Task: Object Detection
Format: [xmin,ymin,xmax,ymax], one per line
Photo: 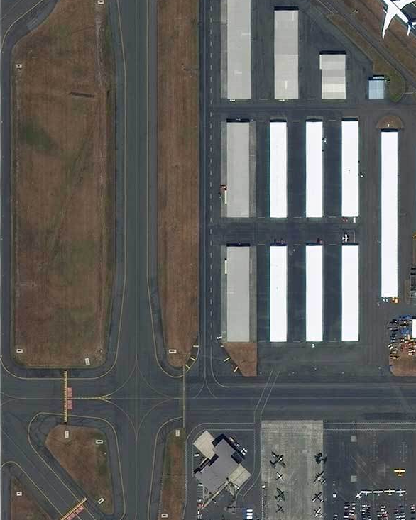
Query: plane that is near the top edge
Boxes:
[384,0,416,39]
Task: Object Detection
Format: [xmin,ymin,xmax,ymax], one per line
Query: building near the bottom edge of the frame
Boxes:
[194,439,240,494]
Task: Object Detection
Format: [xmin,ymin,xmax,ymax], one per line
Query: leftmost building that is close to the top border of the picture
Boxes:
[227,0,252,99]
